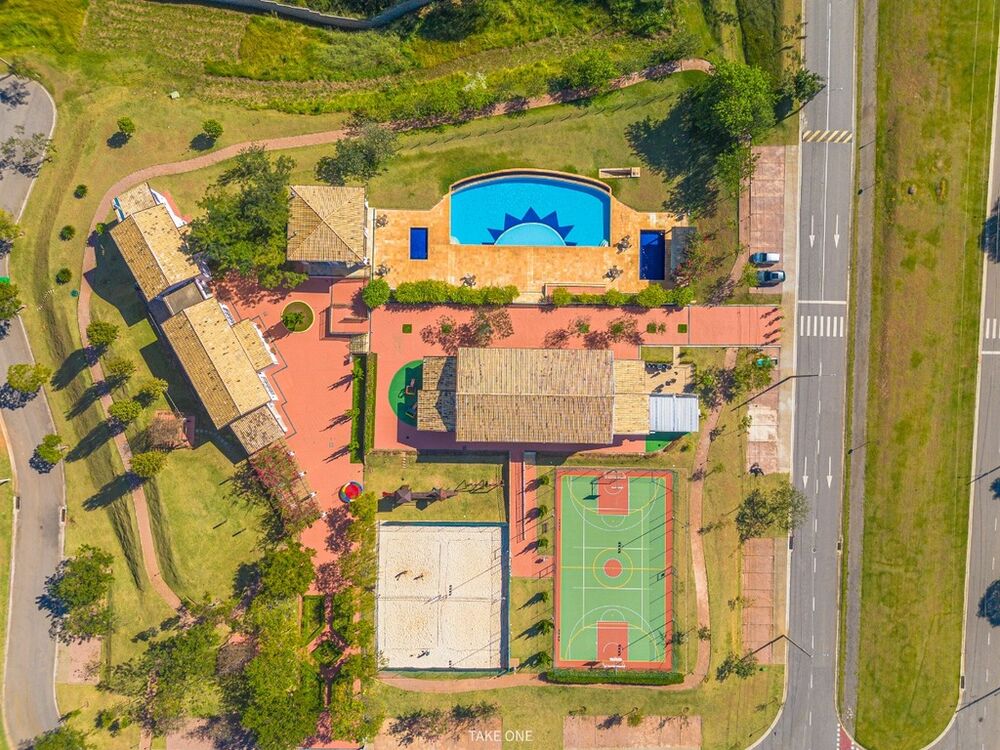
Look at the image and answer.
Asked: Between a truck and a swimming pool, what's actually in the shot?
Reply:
swimming pool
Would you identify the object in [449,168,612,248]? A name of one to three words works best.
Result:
swimming pool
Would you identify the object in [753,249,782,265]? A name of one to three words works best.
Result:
car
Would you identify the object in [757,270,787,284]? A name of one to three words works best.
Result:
car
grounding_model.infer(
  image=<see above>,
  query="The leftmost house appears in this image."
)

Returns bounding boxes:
[108,183,292,455]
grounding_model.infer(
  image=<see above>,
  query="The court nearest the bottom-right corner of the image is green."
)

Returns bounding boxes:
[554,470,674,670]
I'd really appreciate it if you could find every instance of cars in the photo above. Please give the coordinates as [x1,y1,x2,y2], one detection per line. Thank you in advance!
[753,249,782,265]
[757,270,787,284]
